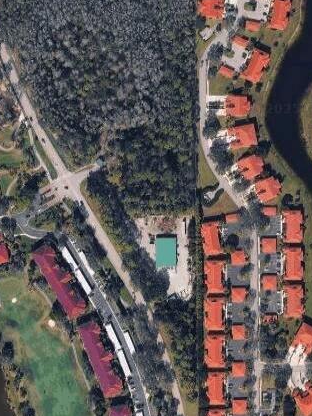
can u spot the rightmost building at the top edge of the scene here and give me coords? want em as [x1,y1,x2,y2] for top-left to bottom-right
[270,0,290,30]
